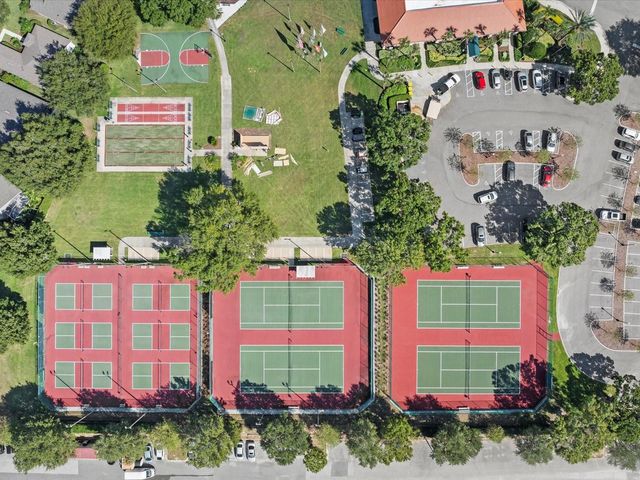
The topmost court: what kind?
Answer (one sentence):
The topmost court is a basketball court.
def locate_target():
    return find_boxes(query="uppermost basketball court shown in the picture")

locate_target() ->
[141,32,208,84]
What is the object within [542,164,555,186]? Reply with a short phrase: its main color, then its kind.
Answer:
red vehicle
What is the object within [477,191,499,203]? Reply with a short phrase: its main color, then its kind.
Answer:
white vehicle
